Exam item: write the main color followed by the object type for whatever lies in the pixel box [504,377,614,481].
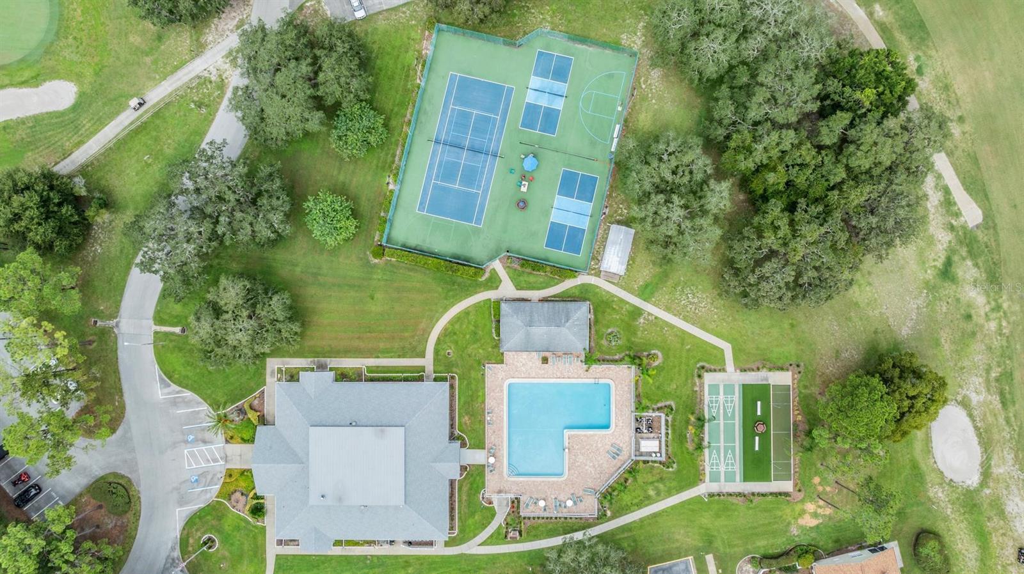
blue swimming pool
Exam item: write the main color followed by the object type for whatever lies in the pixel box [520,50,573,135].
blue sports court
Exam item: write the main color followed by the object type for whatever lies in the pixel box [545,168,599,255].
blue sports court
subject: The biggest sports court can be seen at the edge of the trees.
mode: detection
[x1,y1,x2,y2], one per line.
[386,32,635,271]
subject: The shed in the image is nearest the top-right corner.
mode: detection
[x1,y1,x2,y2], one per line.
[601,224,634,275]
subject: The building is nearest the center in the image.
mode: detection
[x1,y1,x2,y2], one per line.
[500,301,590,353]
